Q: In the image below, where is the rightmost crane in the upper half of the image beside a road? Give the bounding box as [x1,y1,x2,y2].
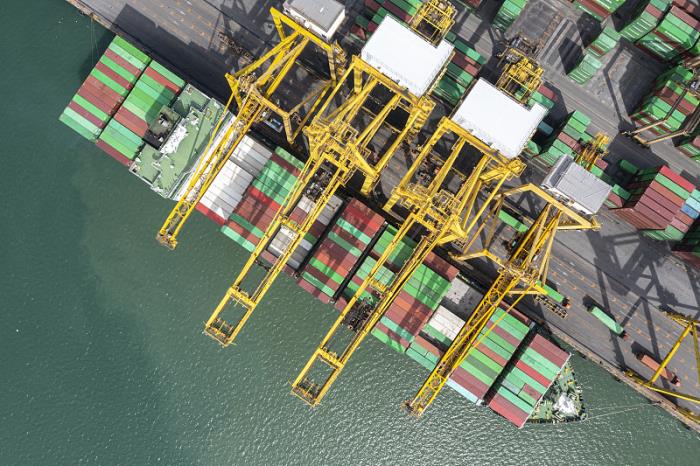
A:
[619,58,700,150]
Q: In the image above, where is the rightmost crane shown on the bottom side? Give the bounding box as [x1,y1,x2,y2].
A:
[619,309,700,427]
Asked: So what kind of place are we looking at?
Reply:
port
